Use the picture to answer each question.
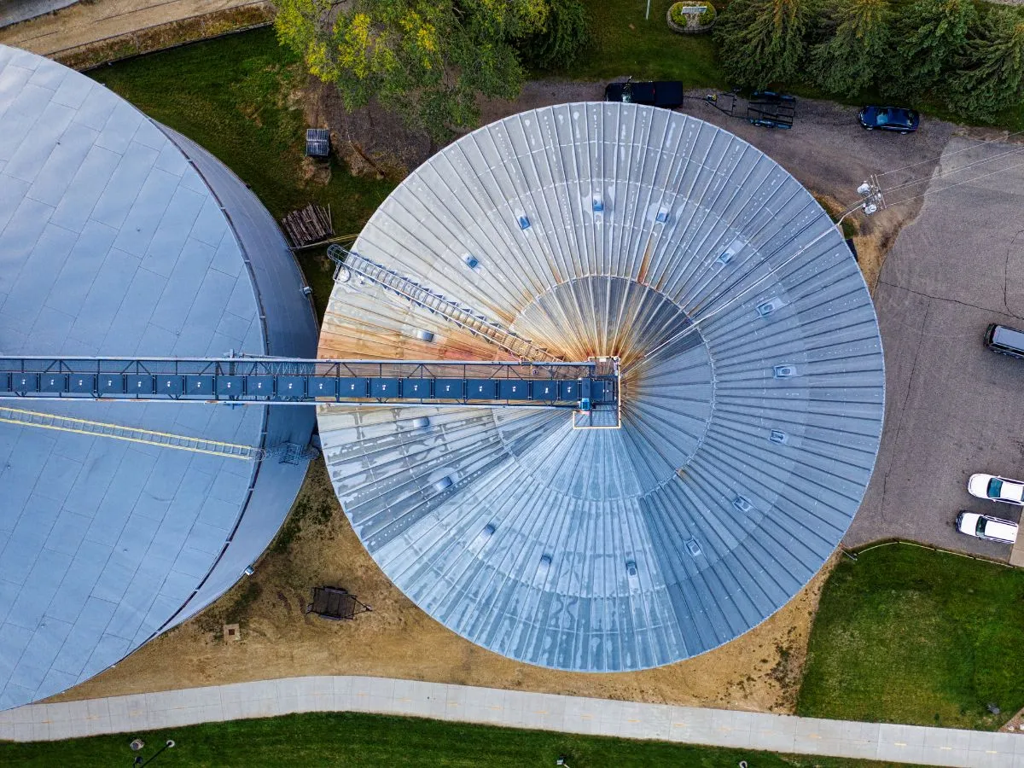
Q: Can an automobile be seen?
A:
Yes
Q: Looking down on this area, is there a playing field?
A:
No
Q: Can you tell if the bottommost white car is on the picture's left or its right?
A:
right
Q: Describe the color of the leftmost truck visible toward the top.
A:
black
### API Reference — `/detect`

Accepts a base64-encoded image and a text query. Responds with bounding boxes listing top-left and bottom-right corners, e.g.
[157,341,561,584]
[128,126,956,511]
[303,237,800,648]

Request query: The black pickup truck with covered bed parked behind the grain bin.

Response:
[607,74,683,109]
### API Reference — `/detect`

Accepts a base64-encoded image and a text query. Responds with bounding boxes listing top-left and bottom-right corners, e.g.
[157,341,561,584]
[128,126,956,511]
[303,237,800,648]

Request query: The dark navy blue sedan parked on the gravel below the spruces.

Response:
[861,100,924,133]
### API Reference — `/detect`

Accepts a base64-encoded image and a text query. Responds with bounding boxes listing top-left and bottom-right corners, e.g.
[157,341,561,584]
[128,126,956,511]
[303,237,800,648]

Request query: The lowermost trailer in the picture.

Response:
[312,586,375,625]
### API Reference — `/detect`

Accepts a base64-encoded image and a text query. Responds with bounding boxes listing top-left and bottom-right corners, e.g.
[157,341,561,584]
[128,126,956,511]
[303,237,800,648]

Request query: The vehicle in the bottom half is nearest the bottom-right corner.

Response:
[956,513,1024,547]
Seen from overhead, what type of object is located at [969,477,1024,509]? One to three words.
car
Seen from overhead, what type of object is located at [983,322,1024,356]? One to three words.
car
